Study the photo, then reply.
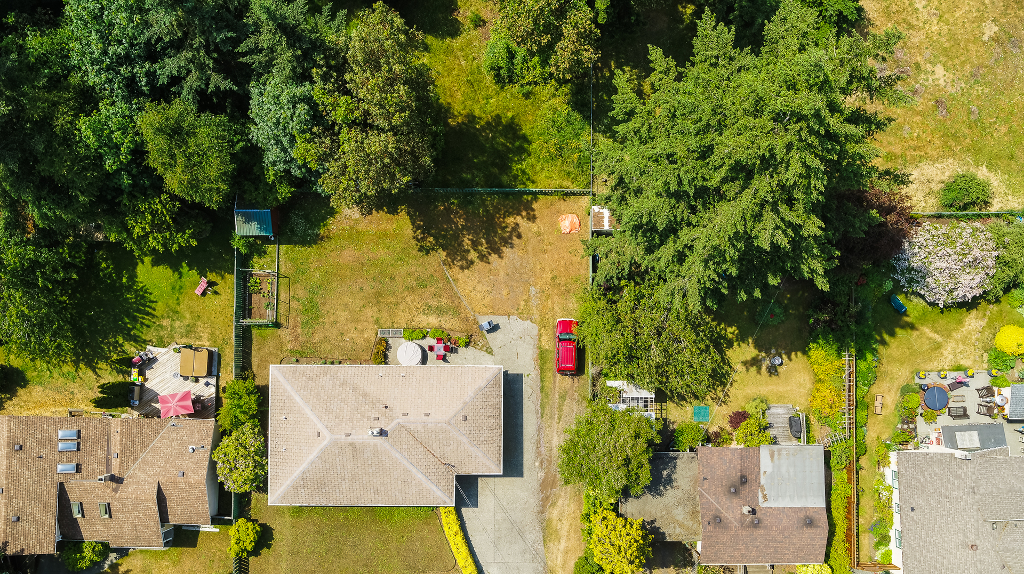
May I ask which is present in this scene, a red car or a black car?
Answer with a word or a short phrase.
red car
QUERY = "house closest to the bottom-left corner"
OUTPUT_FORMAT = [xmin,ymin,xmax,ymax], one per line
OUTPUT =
[0,416,223,556]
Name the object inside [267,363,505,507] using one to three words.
house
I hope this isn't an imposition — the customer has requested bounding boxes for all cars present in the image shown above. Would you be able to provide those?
[554,320,578,381]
